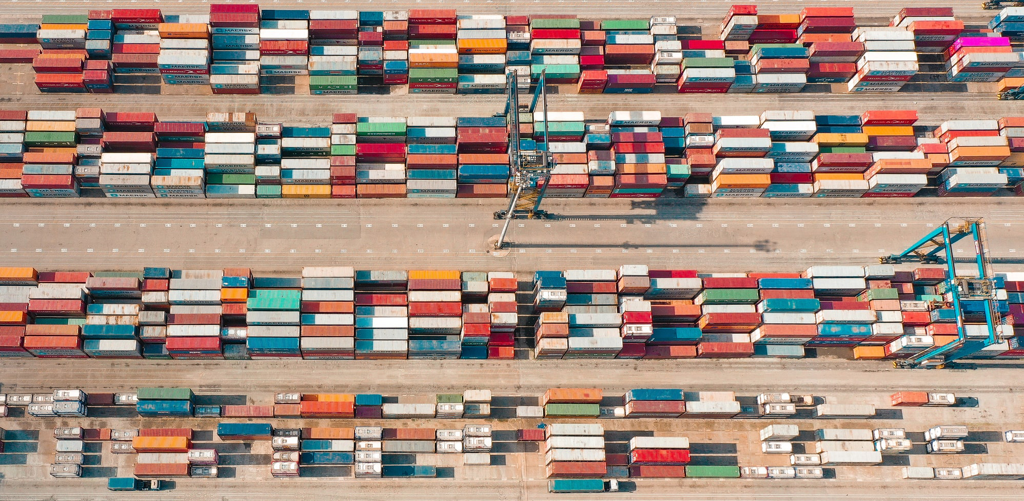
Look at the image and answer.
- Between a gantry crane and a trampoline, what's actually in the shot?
gantry crane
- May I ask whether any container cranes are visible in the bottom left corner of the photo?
No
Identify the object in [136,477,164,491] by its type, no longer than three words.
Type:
vehicle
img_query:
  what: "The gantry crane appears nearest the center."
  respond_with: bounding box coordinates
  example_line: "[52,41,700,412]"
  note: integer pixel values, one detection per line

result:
[486,66,570,220]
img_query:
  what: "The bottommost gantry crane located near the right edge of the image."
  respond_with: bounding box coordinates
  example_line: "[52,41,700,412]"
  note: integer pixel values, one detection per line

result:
[881,212,1009,371]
